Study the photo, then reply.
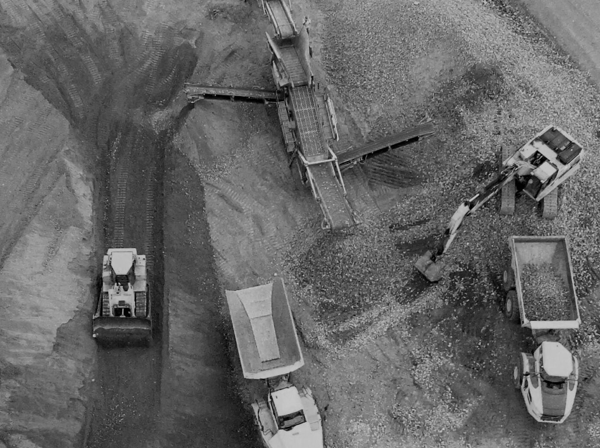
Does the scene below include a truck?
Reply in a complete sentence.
Yes, I can see a truck in this picture.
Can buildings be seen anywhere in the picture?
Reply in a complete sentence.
No, I can't see a single building in this photo.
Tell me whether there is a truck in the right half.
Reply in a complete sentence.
Yes, in the right half there is a truck.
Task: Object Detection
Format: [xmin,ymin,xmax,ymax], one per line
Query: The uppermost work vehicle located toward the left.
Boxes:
[86,247,150,345]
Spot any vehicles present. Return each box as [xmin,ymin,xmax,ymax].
[415,122,588,280]
[226,276,321,448]
[86,247,150,345]
[504,232,588,423]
